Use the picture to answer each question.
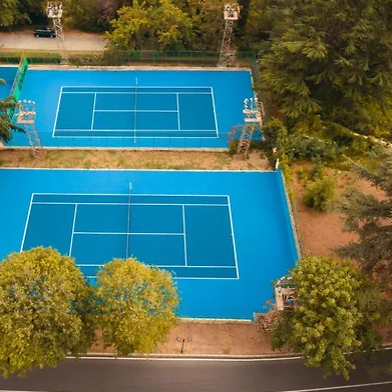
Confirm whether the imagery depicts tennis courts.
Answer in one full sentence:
Yes, there's a tennis court here.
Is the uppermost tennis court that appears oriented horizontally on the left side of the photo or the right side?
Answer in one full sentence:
The uppermost tennis court that appears oriented horizontally appears in the left half of the scene.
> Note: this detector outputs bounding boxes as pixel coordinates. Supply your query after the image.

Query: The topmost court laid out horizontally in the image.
[4,68,265,149]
